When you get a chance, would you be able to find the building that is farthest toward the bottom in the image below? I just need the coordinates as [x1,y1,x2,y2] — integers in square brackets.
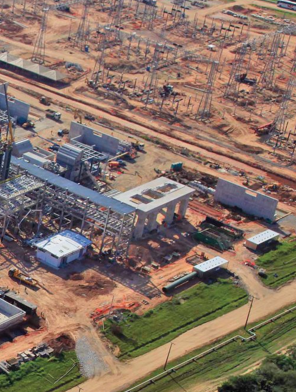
[193,257,228,278]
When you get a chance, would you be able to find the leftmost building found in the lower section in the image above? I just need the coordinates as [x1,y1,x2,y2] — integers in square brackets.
[33,231,92,269]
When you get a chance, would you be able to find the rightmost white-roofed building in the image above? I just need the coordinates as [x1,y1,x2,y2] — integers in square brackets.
[246,229,280,250]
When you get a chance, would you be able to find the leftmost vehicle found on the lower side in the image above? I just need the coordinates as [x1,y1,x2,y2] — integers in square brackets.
[14,271,38,288]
